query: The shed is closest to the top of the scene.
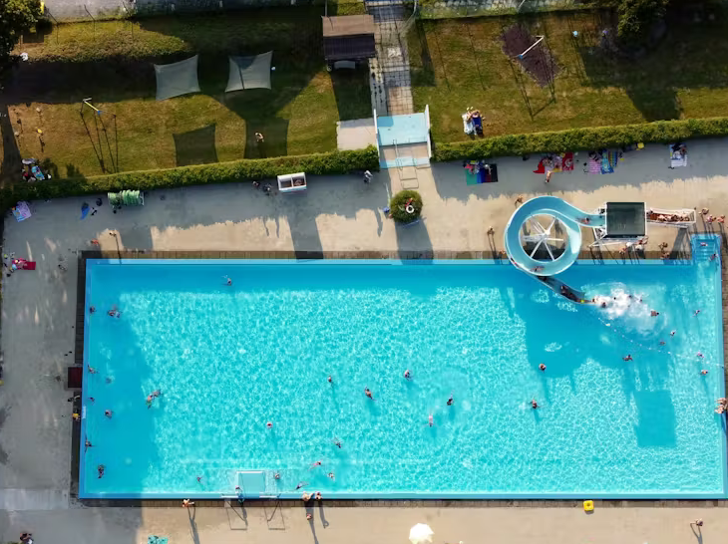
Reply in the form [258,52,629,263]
[320,14,374,62]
